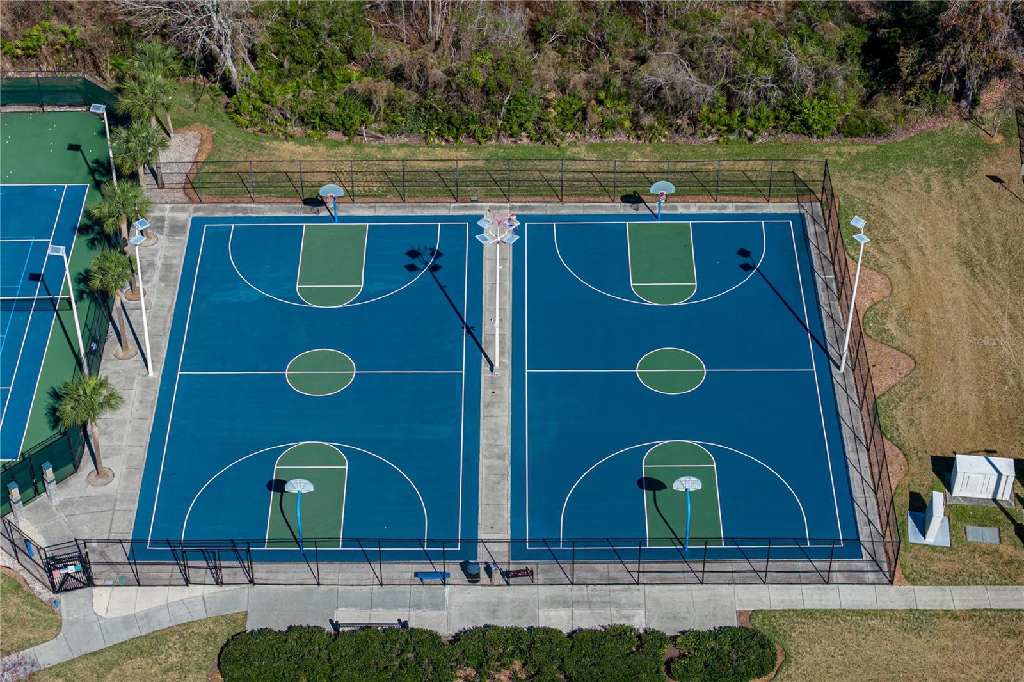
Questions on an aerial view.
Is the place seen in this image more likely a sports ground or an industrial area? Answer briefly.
sports ground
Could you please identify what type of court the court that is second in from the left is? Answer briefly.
basketball court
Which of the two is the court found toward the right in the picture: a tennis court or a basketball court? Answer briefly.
basketball court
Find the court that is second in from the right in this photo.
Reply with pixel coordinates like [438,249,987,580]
[127,212,486,562]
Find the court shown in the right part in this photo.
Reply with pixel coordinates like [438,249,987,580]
[507,211,862,561]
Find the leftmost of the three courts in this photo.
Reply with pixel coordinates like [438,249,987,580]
[0,110,137,513]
